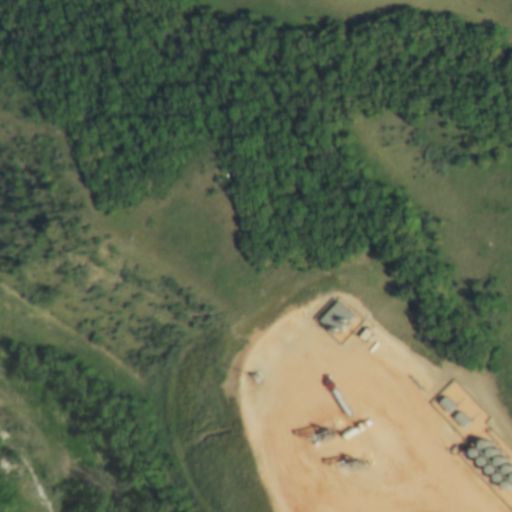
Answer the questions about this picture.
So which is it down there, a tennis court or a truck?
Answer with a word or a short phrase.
truck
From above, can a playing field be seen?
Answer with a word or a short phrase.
No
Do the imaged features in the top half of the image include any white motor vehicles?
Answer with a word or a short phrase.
No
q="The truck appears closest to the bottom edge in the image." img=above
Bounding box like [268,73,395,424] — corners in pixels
[342,418,375,440]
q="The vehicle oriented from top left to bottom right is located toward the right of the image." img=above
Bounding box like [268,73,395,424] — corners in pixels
[322,372,354,418]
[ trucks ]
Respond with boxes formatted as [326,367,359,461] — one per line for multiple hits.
[322,372,354,418]
[342,418,375,440]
